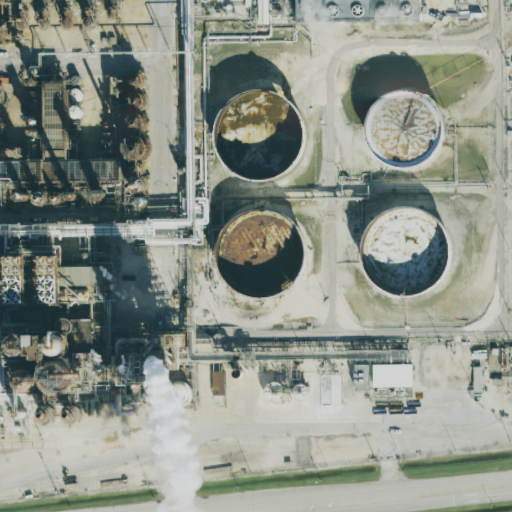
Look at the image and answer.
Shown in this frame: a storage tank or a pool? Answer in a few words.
storage tank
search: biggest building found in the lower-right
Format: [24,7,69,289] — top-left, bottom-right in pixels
[372,364,414,388]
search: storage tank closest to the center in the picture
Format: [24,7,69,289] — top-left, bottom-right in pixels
[216,208,313,303]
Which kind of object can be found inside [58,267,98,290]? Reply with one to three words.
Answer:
building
